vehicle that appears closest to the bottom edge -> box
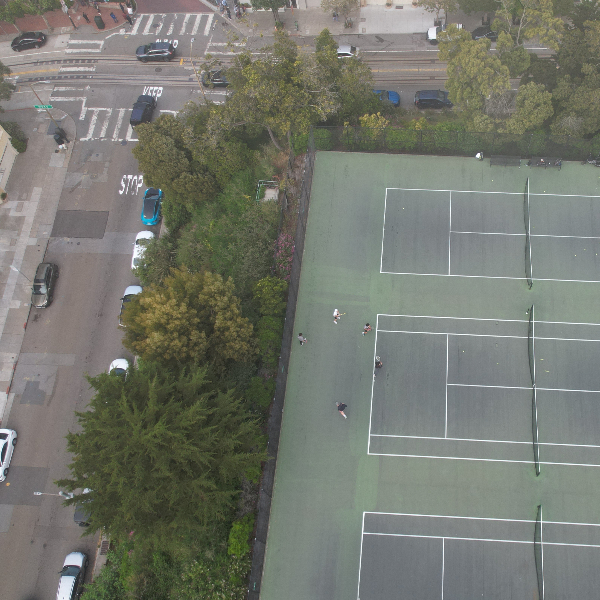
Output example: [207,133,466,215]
[55,556,89,600]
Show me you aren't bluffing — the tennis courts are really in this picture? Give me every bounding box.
[380,187,600,282]
[357,512,600,600]
[368,314,600,466]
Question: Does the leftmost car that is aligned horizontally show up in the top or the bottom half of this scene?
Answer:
top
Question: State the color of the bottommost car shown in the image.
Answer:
white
